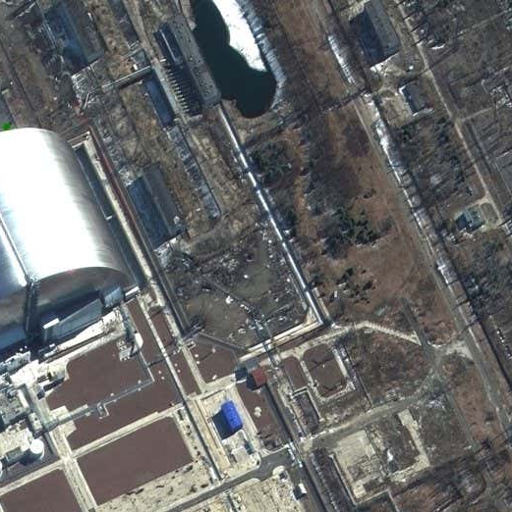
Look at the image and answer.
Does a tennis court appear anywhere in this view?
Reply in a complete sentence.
No, I can't see a single tennis court in this photo.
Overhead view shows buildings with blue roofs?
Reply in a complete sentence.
Yes, looking at the shot, I can spot a building with a blue roof.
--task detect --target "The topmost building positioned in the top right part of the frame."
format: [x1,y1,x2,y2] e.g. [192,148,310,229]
[362,0,400,63]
